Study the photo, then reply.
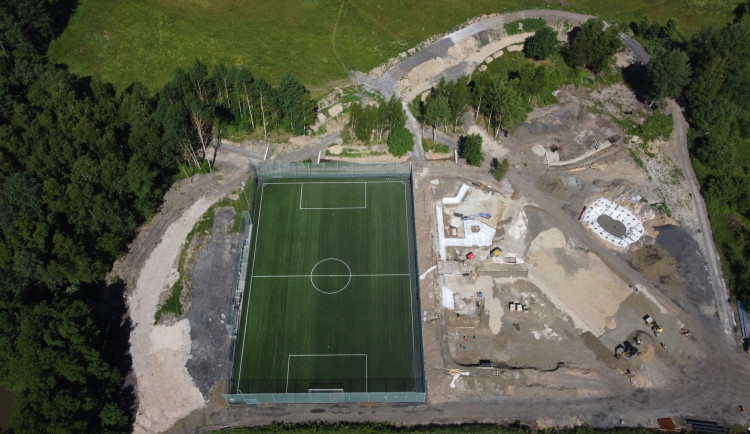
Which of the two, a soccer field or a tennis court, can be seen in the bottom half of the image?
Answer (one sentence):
What appears in the bottom half of the image is a soccer field.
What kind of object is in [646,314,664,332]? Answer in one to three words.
vehicle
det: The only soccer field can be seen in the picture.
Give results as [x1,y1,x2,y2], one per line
[230,176,423,402]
